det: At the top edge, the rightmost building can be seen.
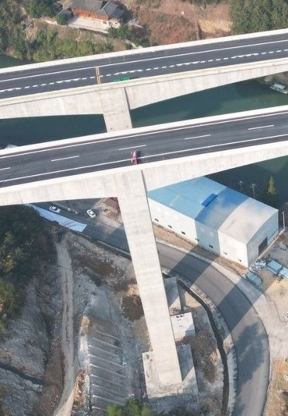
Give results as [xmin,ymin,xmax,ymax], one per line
[72,1,133,34]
